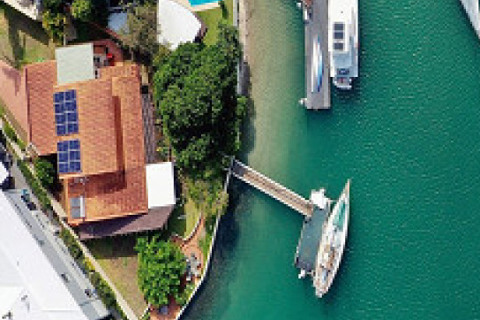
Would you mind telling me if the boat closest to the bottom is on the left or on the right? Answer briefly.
right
